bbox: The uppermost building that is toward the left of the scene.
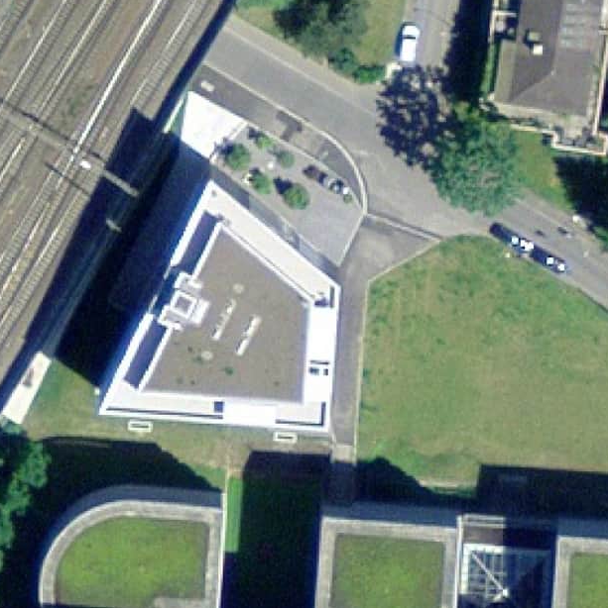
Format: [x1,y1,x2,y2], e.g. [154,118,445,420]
[88,150,339,432]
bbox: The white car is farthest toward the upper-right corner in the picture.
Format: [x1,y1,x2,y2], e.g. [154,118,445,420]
[399,21,421,63]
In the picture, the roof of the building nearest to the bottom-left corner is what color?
green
